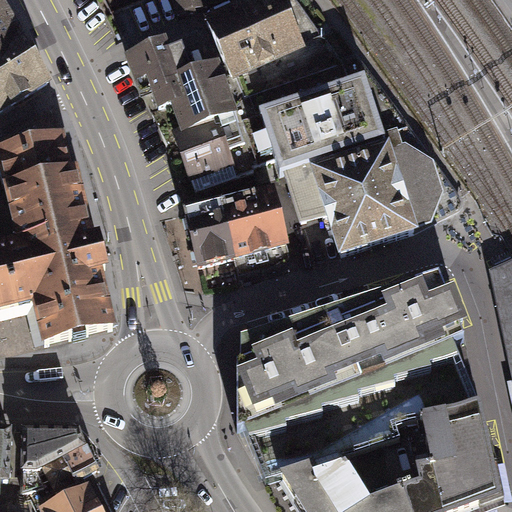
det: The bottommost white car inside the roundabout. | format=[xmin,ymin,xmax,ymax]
[104,415,126,429]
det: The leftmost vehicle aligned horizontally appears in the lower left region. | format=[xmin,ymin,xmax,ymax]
[24,366,66,384]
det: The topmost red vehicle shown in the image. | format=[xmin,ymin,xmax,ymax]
[112,77,134,92]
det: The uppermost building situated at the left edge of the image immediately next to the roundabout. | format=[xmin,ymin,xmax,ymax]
[0,151,114,350]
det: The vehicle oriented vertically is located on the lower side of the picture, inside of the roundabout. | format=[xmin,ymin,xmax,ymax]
[180,344,193,365]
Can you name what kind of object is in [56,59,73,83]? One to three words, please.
car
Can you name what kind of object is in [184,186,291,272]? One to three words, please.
house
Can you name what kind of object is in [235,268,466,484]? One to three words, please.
building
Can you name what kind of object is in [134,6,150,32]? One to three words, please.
vehicle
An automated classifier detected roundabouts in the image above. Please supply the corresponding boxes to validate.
[94,330,221,456]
